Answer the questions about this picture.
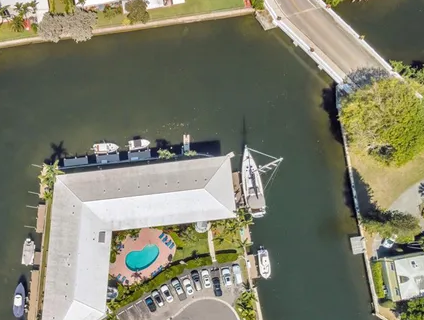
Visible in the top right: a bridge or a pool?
bridge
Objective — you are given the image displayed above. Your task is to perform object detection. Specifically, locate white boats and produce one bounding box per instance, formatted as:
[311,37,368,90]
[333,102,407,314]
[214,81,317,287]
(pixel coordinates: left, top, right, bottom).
[91,142,118,154]
[22,238,34,265]
[256,245,271,278]
[126,139,149,151]
[242,144,281,219]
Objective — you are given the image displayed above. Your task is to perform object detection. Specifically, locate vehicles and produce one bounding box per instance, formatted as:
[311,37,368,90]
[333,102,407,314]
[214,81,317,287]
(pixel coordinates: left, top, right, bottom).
[182,277,193,297]
[151,288,164,308]
[145,296,157,313]
[231,264,243,285]
[211,275,223,298]
[189,269,203,292]
[171,277,186,300]
[161,282,173,303]
[201,269,211,289]
[220,267,232,287]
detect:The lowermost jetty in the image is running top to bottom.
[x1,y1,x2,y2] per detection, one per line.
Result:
[27,271,39,320]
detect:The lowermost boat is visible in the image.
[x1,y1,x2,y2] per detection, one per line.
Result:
[13,283,26,318]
